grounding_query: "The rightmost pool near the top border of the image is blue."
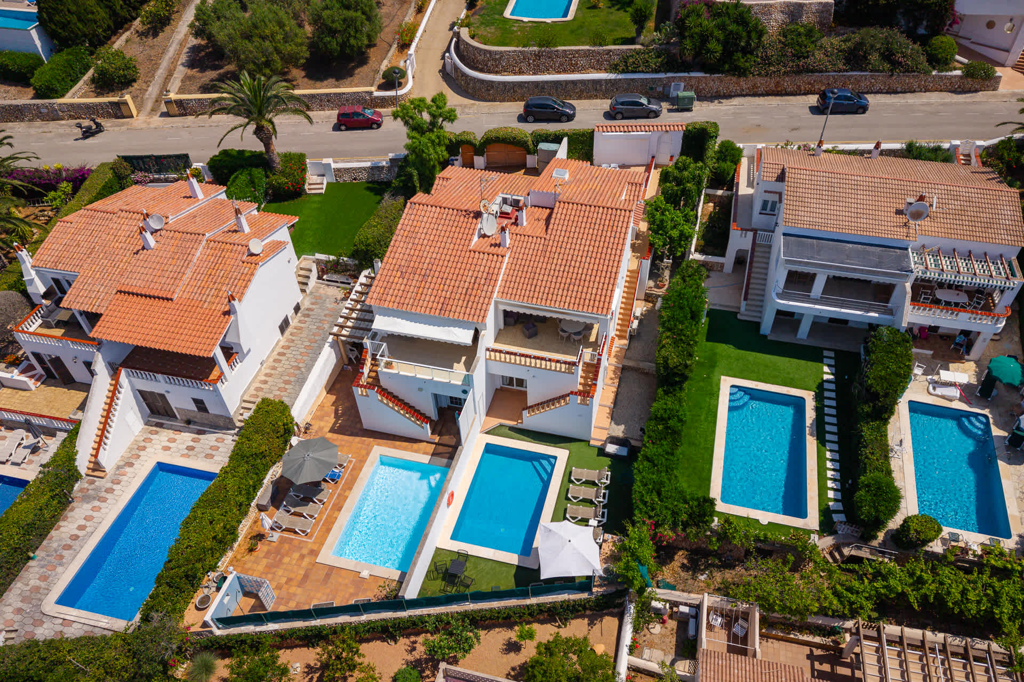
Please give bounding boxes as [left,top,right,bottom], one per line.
[498,0,585,23]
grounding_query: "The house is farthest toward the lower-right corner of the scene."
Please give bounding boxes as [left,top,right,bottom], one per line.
[690,593,808,682]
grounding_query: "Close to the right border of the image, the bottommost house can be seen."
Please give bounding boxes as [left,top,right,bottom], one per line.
[722,135,1024,363]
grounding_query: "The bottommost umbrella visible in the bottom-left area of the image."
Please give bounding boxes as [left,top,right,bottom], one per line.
[257,513,280,546]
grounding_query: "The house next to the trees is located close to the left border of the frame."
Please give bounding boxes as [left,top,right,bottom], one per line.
[0,175,308,475]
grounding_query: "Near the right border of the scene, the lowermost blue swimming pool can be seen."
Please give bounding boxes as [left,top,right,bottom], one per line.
[895,395,1024,552]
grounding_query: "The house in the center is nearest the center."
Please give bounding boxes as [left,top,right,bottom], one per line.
[352,156,660,450]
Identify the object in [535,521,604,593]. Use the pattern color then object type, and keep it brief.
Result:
white umbrella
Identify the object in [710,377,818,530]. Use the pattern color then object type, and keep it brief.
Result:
blue swimming pool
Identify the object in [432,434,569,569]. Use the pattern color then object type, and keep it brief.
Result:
blue swimming pool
